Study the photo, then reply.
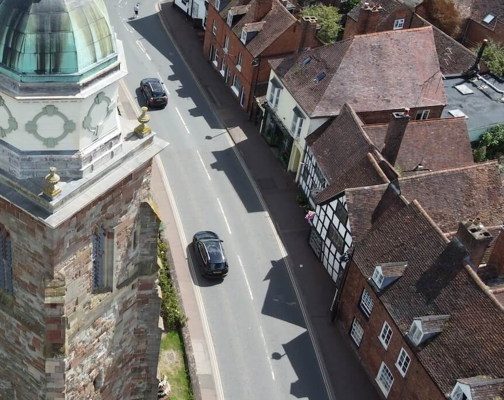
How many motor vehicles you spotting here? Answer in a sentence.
Altogether the scene contains 2 motor vehicles.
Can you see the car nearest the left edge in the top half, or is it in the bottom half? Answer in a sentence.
The top half of the photo is where the car nearest the left edge is.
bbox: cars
[141,77,171,105]
[193,234,235,283]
